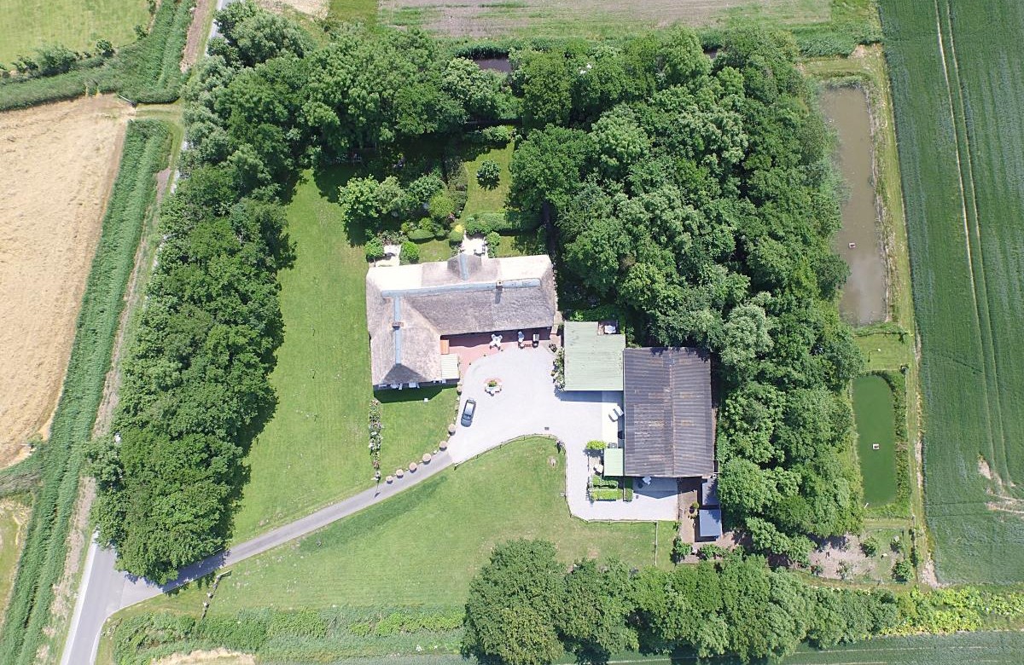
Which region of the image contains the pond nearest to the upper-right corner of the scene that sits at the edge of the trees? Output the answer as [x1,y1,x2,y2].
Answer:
[815,86,888,326]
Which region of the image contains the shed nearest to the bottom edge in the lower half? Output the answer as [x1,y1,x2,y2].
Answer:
[696,510,721,537]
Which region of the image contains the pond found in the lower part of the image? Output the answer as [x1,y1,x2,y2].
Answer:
[853,373,898,508]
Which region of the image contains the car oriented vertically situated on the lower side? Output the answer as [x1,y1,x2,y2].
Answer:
[459,399,475,428]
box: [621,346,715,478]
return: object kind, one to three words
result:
barn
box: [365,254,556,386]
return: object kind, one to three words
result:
house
